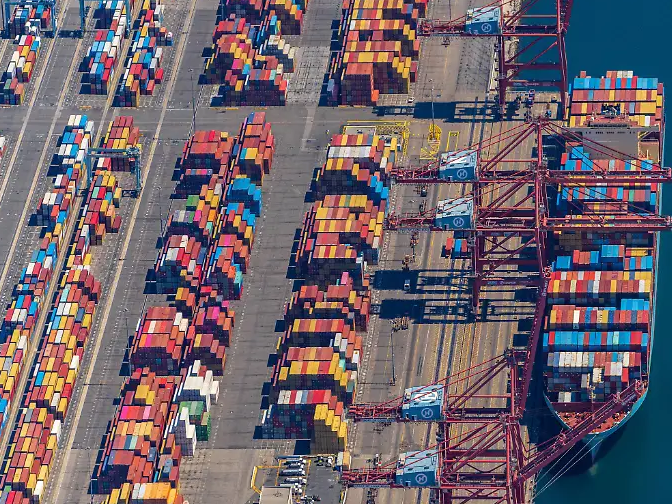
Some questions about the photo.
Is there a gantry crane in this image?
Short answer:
Yes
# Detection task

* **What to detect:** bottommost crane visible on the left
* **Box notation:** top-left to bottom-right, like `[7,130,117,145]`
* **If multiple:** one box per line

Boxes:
[85,144,145,198]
